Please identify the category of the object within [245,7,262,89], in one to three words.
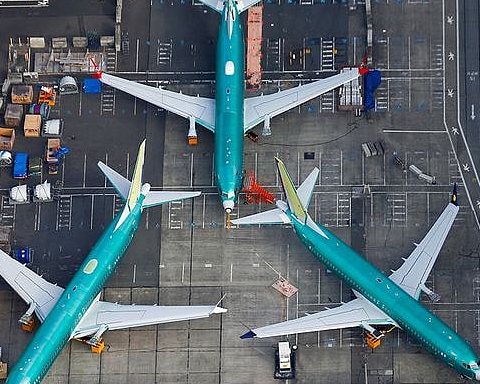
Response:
trailer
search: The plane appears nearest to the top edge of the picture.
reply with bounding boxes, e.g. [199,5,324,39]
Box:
[92,0,368,213]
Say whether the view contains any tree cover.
No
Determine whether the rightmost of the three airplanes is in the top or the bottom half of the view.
bottom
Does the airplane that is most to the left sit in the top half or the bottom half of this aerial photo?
bottom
